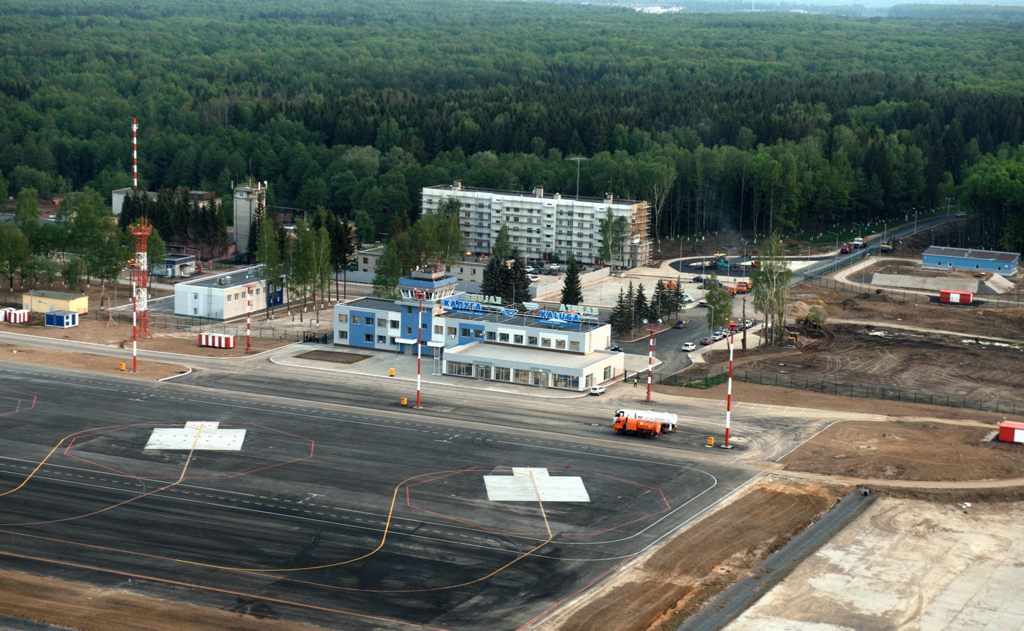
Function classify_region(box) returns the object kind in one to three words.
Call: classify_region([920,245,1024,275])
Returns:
building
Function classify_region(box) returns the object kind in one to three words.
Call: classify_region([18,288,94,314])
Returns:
building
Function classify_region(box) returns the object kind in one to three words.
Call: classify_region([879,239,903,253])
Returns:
work vehicle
